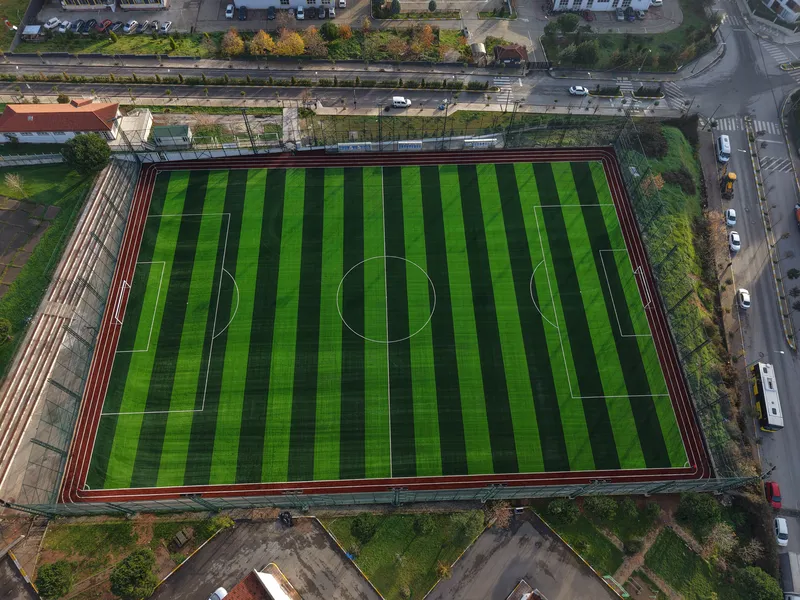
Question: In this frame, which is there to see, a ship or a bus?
bus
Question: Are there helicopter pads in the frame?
No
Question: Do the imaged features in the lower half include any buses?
Yes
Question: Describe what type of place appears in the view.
sports ground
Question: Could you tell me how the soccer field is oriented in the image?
from side to side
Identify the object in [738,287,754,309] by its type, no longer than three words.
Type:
car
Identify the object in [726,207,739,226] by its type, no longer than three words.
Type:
vehicle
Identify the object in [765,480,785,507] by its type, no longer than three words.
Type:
car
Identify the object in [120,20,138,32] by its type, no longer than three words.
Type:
vehicle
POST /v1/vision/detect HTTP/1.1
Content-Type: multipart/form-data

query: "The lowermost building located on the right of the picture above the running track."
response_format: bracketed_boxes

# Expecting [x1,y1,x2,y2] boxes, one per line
[498,37,530,63]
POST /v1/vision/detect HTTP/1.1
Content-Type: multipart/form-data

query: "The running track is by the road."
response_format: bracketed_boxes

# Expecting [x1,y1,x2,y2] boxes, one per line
[55,148,718,504]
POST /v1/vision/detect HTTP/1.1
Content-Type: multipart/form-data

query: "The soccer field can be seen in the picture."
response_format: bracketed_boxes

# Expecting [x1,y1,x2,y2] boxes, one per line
[83,160,691,491]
